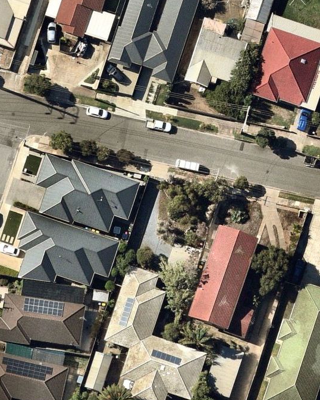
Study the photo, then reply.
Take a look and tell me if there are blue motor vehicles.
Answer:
Yes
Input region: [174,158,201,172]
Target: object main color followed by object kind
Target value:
white vehicle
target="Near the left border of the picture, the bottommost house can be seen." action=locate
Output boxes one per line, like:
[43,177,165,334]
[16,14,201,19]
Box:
[0,351,70,400]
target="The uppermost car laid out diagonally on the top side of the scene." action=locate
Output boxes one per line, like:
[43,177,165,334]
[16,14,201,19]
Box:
[105,64,123,84]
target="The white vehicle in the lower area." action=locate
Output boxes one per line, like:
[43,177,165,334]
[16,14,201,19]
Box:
[0,241,21,257]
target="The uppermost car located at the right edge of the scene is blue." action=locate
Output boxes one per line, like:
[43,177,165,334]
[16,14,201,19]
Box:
[295,108,312,133]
